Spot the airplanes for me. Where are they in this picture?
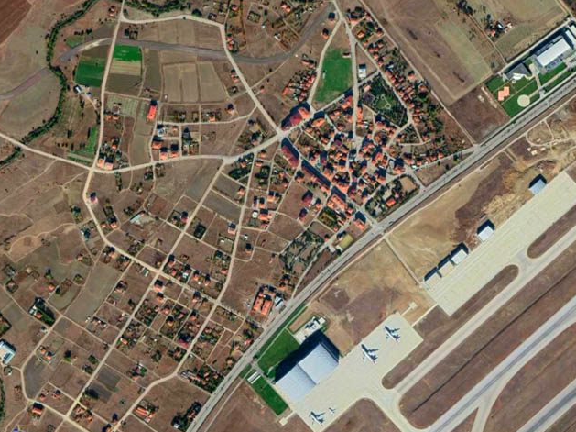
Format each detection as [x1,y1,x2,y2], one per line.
[387,330,401,344]
[363,348,379,366]
[313,415,324,426]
